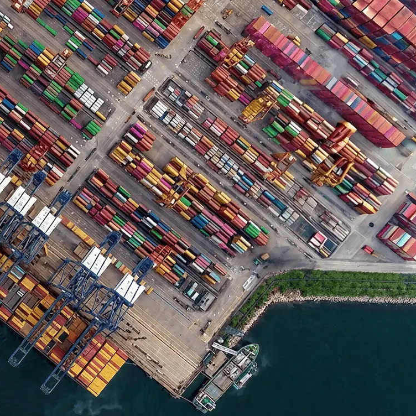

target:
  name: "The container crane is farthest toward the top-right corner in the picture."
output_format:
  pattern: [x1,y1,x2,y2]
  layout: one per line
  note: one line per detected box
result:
[317,118,362,158]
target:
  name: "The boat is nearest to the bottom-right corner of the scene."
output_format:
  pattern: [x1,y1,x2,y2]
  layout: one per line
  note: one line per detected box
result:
[232,363,258,392]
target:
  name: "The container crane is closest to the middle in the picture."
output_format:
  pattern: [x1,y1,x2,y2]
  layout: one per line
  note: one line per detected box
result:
[152,166,204,215]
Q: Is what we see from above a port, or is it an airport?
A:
port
